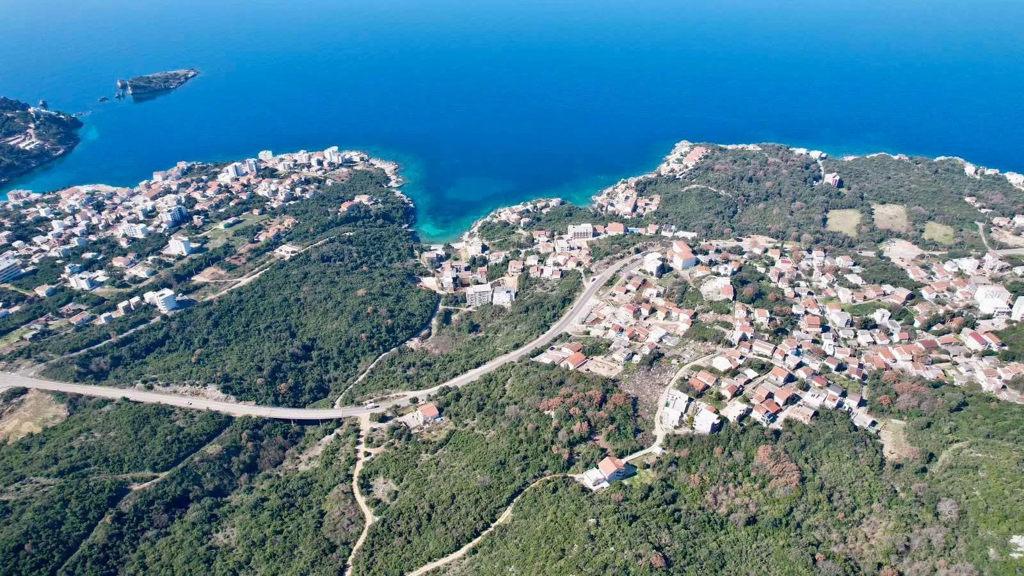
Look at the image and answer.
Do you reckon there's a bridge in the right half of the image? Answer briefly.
No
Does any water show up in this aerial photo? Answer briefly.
Yes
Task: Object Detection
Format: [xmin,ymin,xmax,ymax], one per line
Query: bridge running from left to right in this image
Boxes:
[223,404,366,433]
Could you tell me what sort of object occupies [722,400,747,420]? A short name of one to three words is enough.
house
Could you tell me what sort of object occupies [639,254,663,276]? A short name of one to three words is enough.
building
